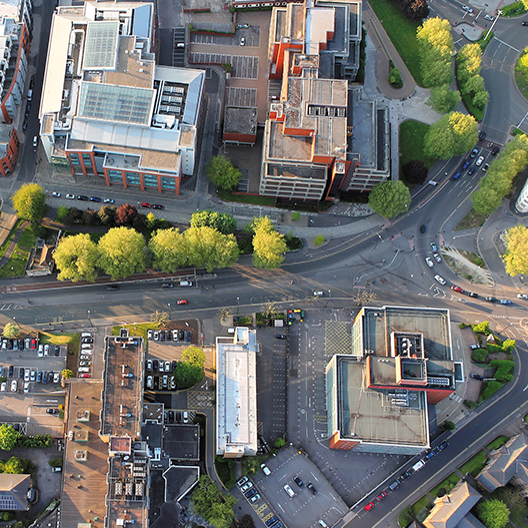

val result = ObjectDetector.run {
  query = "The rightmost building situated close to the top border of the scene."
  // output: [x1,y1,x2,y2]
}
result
[257,0,390,202]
